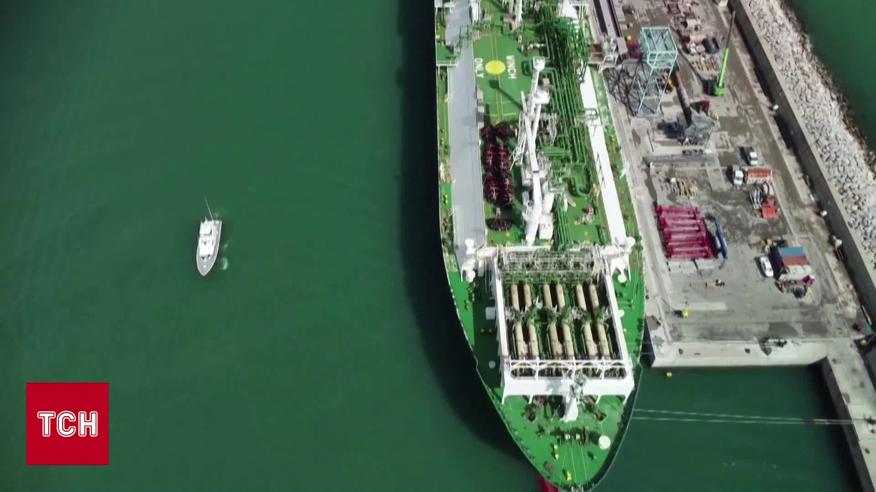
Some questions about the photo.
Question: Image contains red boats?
No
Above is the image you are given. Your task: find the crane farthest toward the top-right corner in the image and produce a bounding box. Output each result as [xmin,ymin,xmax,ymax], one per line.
[701,11,736,98]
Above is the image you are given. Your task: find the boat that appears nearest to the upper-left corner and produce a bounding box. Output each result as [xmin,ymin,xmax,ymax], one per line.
[196,199,222,274]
